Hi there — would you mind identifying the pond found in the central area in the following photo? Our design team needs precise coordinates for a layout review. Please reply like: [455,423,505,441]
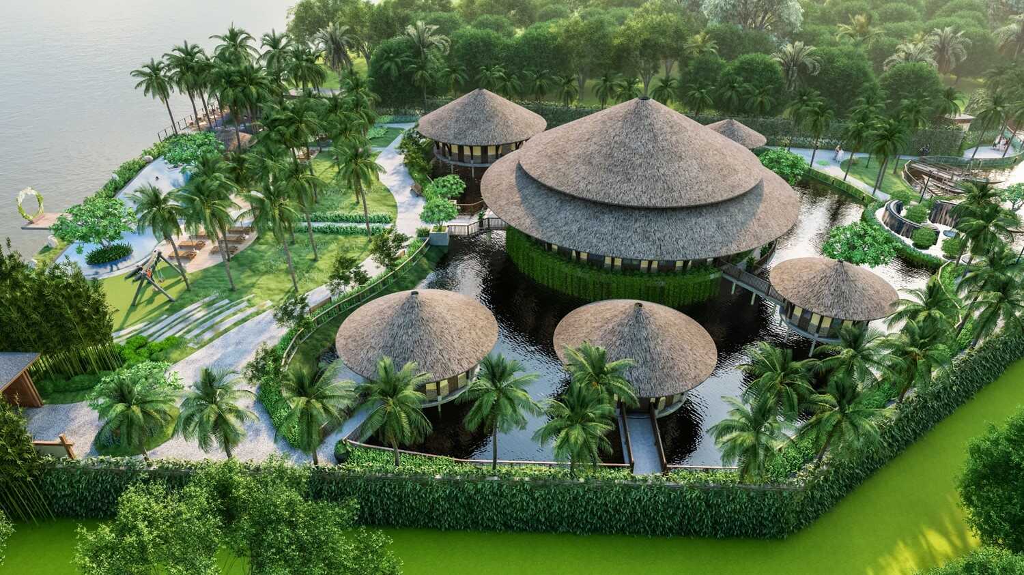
[304,145,925,477]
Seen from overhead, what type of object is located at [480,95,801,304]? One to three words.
building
